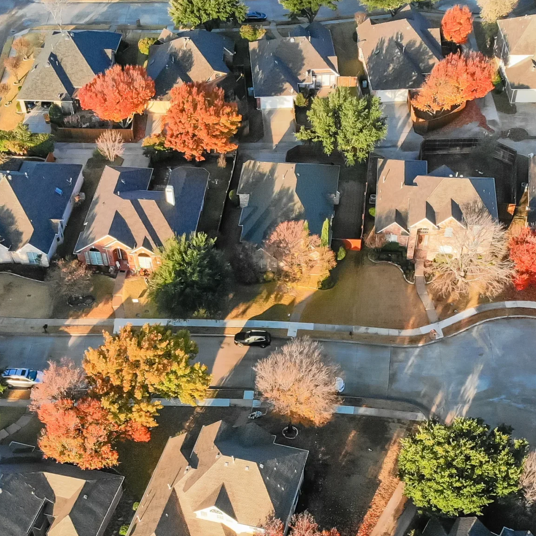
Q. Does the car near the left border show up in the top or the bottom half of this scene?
bottom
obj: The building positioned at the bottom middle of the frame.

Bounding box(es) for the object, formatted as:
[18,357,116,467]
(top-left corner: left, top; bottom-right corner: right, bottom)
[125,408,311,536]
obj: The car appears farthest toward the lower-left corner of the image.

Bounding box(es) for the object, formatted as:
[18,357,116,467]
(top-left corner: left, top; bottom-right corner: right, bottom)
[1,367,44,389]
